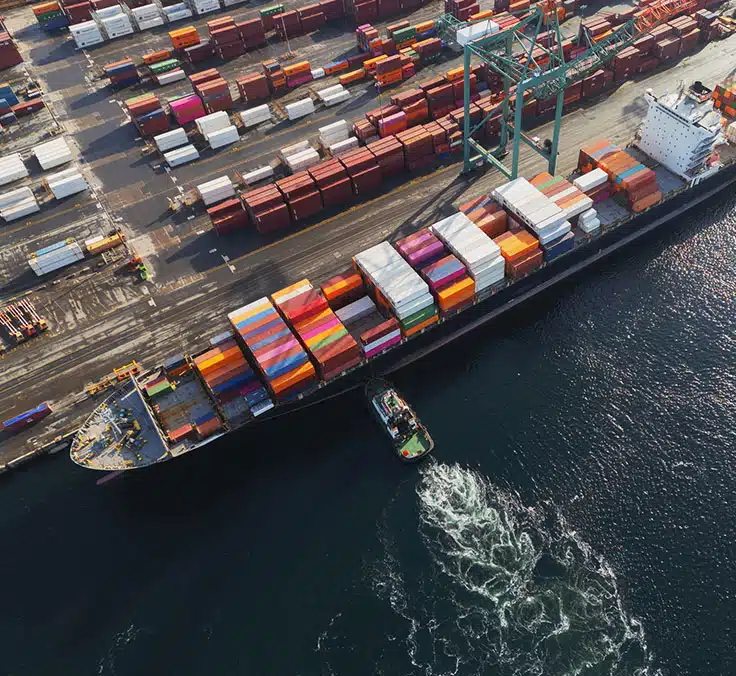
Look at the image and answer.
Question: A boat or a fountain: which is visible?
boat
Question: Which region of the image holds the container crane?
top right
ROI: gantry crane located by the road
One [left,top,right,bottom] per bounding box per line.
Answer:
[433,0,714,185]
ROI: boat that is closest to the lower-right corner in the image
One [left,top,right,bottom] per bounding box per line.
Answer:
[364,369,434,466]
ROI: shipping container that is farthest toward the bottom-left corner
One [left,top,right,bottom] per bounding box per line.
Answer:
[0,400,50,432]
